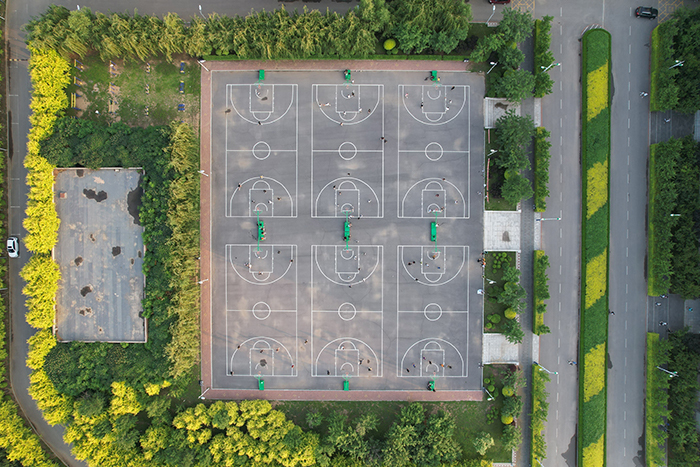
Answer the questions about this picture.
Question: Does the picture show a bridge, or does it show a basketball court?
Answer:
basketball court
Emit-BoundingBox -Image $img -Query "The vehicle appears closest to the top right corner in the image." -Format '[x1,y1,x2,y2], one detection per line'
[634,8,656,20]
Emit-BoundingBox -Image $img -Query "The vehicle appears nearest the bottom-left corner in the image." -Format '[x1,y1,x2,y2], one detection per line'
[8,237,21,258]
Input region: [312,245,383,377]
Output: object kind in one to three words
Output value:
basketball court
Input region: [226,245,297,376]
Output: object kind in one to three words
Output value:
basketball court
